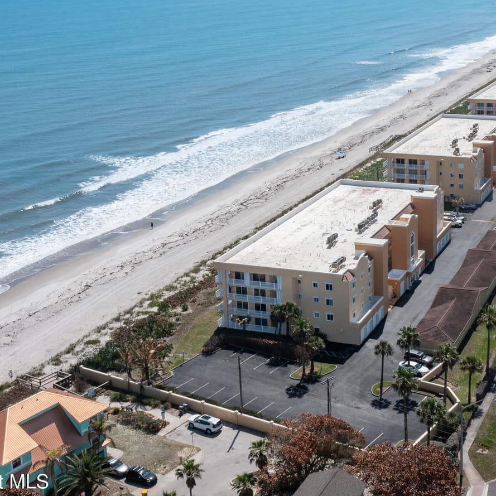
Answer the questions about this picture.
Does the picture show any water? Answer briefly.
Yes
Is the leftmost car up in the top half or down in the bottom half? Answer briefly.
bottom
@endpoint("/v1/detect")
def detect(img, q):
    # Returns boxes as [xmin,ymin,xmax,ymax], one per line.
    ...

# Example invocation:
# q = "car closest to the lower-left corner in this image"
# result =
[105,447,128,475]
